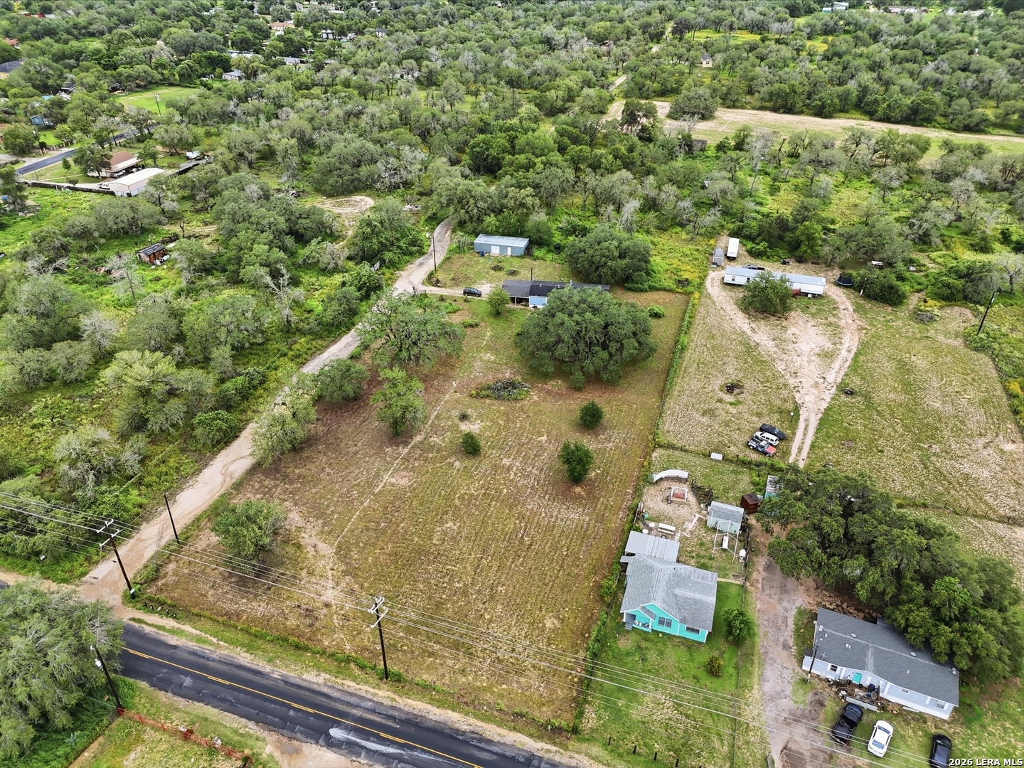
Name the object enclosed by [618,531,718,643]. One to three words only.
house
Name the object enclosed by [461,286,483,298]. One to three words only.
vehicle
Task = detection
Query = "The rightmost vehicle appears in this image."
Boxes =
[927,731,955,768]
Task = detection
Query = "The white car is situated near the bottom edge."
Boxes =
[867,718,893,761]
